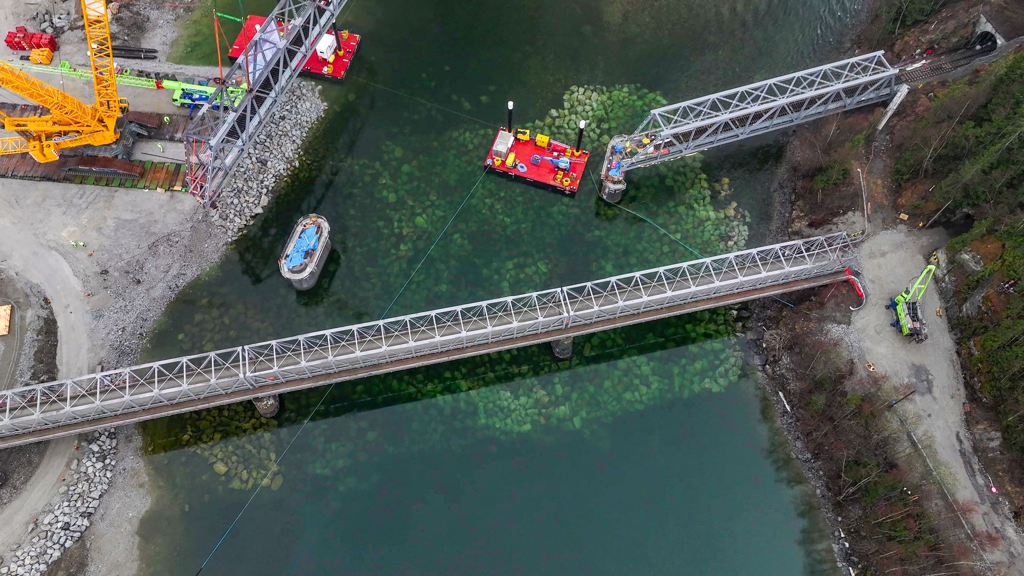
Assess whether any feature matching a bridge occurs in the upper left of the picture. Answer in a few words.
Yes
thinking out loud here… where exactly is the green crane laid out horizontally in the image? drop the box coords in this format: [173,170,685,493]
[0,60,244,121]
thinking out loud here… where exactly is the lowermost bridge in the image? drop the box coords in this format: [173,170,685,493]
[0,232,857,446]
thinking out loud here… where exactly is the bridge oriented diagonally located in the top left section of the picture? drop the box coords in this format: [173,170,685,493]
[169,0,346,214]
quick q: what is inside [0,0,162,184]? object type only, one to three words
crane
